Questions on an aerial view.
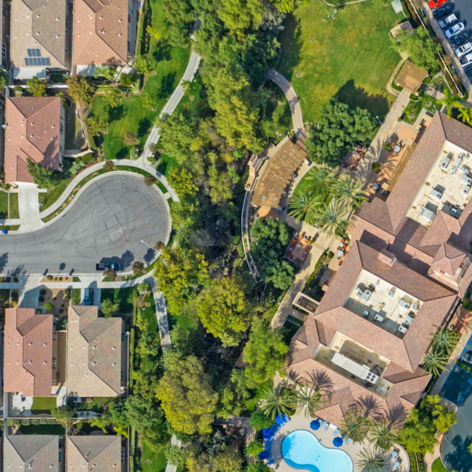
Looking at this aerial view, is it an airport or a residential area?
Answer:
residential area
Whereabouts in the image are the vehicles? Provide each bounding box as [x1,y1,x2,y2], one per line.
[83,286,93,307]
[458,52,472,68]
[429,0,450,11]
[435,12,459,30]
[453,41,472,58]
[97,261,122,271]
[462,352,472,363]
[449,31,470,47]
[444,23,465,38]
[432,5,454,20]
